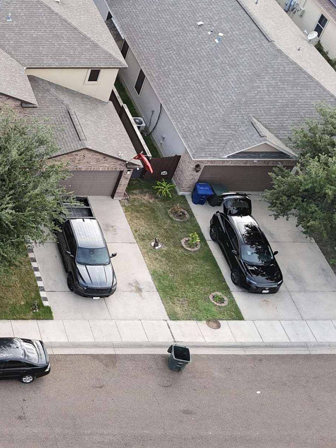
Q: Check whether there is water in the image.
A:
No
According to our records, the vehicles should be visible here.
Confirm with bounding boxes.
[0,337,55,384]
[210,198,280,295]
[51,199,118,299]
